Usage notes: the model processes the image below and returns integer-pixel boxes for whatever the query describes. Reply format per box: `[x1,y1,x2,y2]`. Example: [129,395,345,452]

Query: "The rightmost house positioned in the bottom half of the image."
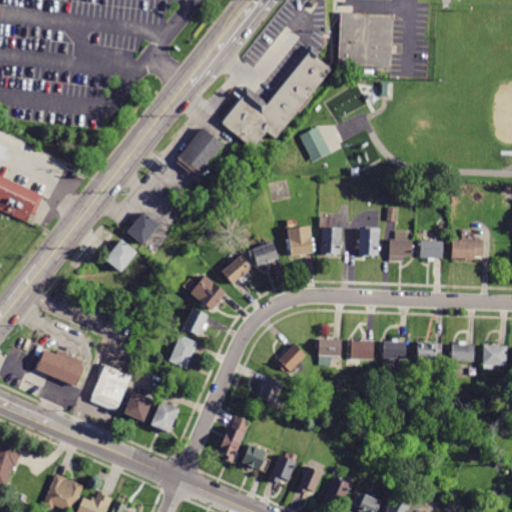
[484,345,508,370]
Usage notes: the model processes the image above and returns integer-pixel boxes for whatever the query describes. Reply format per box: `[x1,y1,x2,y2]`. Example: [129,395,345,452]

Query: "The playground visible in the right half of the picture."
[342,131,382,167]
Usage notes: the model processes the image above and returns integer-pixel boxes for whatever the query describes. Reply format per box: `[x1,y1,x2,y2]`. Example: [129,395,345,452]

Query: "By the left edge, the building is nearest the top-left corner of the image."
[0,176,42,222]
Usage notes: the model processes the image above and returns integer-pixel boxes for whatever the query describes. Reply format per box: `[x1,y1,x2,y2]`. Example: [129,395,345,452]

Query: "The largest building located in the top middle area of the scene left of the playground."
[223,54,331,146]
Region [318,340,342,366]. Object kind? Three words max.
house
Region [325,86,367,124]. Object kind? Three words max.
sports court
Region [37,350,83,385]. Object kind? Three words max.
building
